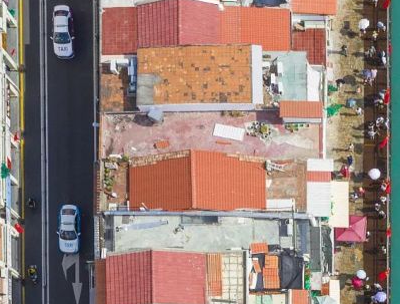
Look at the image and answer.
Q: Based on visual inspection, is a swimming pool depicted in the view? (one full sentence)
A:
No, no swimming pool is visible in the view.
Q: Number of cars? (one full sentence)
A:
The picture shows 2 cars.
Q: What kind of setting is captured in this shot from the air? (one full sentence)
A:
The picture captures a residential area.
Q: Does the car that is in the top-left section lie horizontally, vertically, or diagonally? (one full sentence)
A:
The car that is in the top-left section is laid out vertically.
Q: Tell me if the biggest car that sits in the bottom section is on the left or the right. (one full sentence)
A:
The biggest car that sits in the bottom section is on the left side of the image.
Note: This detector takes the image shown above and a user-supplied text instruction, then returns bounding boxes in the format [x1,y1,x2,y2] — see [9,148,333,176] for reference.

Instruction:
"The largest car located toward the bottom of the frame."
[57,204,84,255]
